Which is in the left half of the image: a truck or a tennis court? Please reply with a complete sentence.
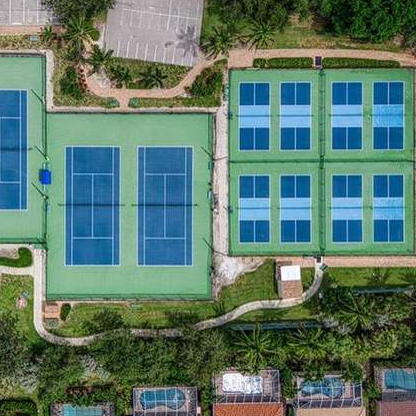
What appears in the left half of the image is a tennis court.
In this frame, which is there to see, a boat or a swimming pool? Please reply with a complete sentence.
There is a swimming pool in the scene.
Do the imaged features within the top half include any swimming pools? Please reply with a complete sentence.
No, there is no swimming pool within the top half.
